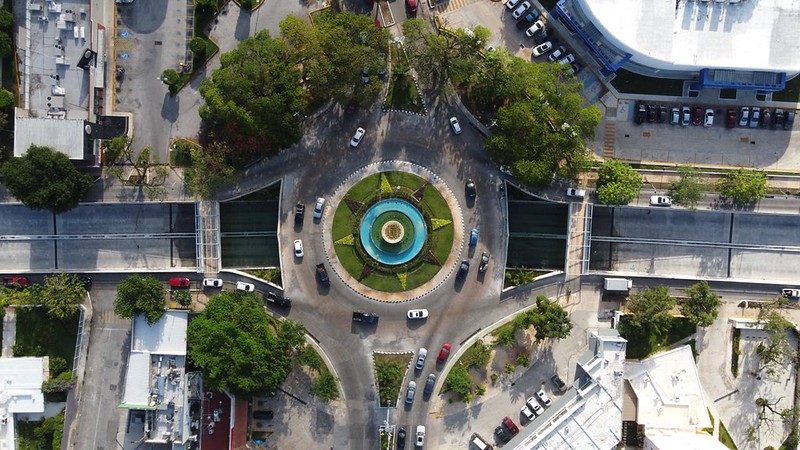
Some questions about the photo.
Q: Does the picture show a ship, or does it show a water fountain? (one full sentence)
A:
This aerial view contains a water fountain.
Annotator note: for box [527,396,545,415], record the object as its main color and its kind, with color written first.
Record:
white car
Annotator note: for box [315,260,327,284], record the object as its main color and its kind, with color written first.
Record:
black vehicle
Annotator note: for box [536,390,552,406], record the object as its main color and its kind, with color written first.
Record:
white car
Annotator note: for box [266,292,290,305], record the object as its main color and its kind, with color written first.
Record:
black vehicle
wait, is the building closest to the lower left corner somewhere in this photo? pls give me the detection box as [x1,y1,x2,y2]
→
[0,354,69,450]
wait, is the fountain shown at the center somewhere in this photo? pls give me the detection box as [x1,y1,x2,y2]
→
[359,198,427,266]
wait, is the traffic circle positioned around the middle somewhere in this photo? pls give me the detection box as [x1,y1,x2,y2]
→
[321,159,465,304]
